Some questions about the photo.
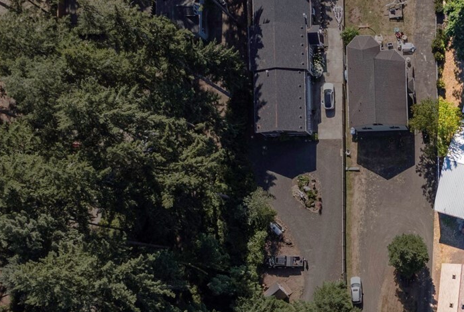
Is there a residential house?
Yes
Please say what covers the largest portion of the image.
trees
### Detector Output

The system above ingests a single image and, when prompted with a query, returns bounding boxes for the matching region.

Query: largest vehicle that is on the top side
[322,83,335,110]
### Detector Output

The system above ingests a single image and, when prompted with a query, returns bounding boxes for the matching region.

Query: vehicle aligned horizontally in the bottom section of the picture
[269,255,306,269]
